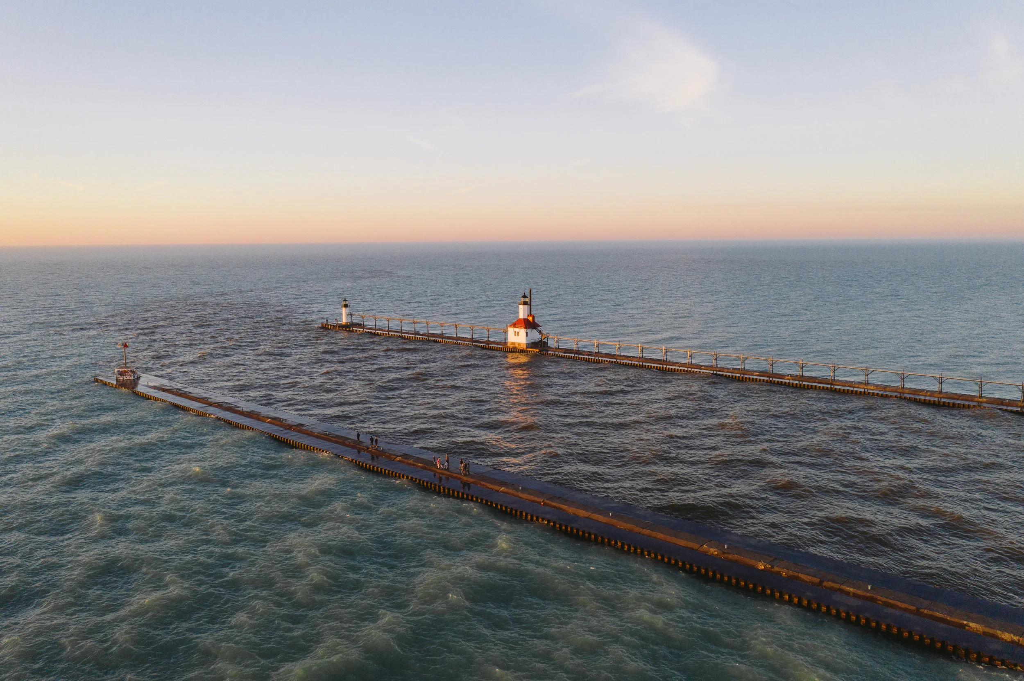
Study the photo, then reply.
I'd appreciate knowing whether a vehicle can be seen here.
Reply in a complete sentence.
No, there appears to be no vehicle in this shot.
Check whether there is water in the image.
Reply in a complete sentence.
Yes, water can be seen from above here.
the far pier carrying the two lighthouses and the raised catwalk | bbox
[321,322,1024,416]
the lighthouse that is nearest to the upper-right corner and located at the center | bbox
[504,289,554,348]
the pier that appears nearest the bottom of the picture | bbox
[94,374,1024,678]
